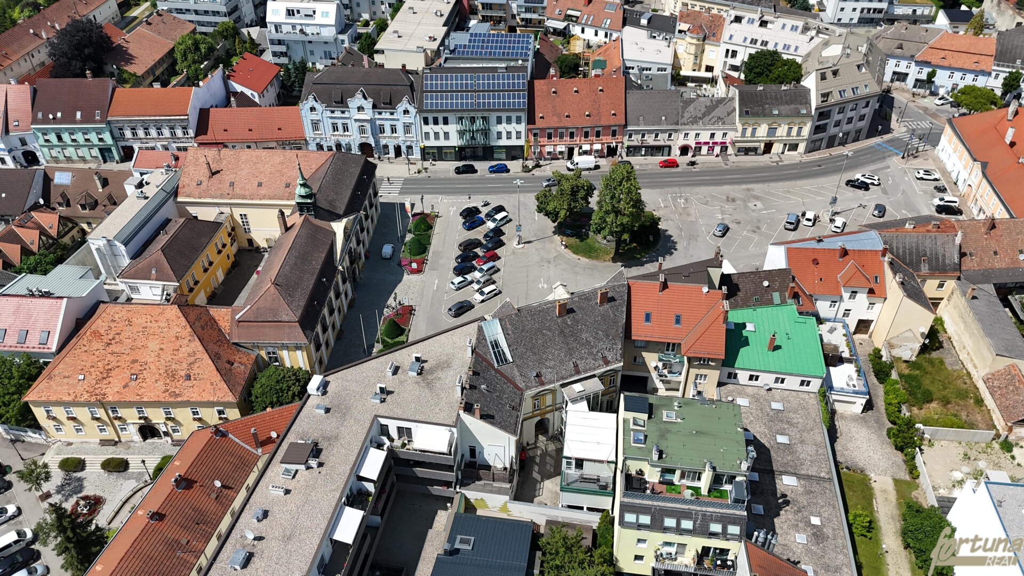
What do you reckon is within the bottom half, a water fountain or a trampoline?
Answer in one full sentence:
The feature located within the bottom half is a water fountain.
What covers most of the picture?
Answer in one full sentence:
The scene is dominated by buildings.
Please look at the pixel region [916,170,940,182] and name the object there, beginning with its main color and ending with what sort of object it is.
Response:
white vehicle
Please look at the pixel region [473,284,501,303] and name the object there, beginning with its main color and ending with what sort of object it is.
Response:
white car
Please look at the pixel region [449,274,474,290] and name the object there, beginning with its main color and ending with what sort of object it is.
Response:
white car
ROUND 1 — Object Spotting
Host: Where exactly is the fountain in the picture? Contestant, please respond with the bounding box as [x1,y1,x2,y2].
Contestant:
[62,489,112,526]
